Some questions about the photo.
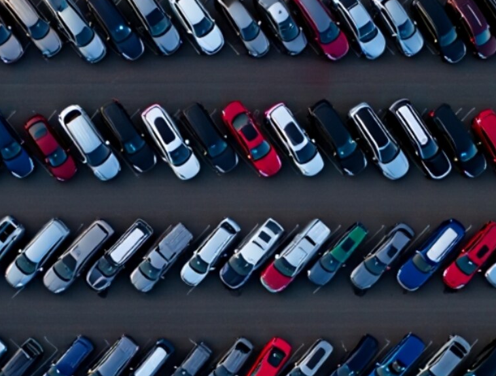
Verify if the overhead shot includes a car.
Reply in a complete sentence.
Yes, the photo shows a car.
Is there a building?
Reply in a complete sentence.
No, the picture doesn't show any building.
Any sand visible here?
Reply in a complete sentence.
No, there is no sand in the image.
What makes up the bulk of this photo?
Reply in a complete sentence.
What you mostly see from above here is paved ground.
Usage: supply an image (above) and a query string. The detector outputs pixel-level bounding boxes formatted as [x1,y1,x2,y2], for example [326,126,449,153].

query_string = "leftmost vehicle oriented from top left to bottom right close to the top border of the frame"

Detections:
[3,0,59,58]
